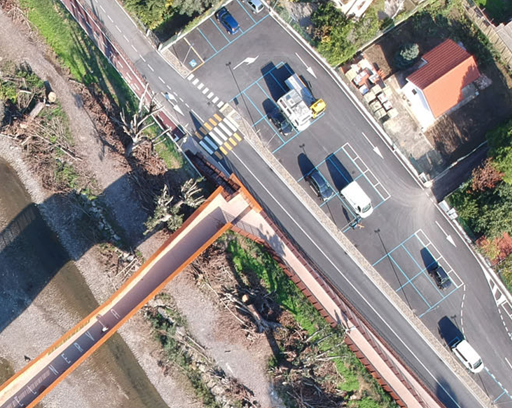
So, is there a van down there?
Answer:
Yes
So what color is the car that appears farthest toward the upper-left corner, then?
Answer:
blue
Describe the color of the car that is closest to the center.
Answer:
blue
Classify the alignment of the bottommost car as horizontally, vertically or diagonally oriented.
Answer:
diagonally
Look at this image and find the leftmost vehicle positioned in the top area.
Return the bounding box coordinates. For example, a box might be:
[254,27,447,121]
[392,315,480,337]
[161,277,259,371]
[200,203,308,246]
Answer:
[214,6,240,34]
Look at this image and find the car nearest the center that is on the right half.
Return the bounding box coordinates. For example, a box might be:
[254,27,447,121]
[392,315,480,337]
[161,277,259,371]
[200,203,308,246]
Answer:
[305,171,333,201]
